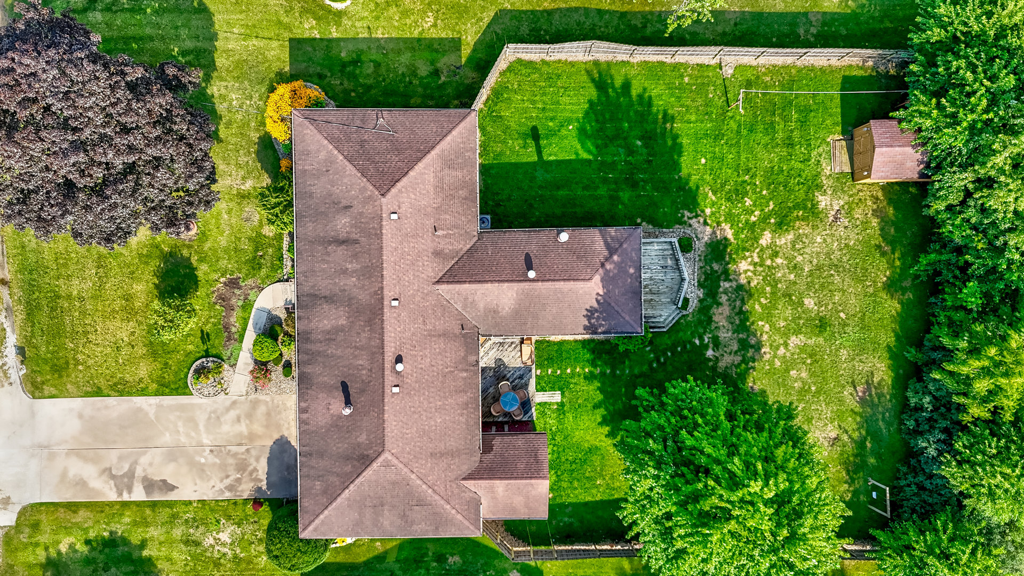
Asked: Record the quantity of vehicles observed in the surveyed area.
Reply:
zero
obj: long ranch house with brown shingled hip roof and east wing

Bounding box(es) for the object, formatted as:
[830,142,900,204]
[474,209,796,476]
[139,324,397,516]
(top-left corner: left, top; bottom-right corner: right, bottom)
[291,107,645,540]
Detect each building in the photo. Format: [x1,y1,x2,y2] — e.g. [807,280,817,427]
[853,121,943,181]
[291,107,645,540]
